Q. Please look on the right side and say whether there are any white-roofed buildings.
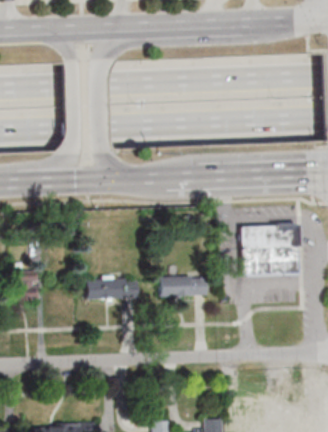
Yes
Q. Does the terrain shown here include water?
No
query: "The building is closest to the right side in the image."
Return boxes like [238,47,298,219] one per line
[242,224,300,278]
